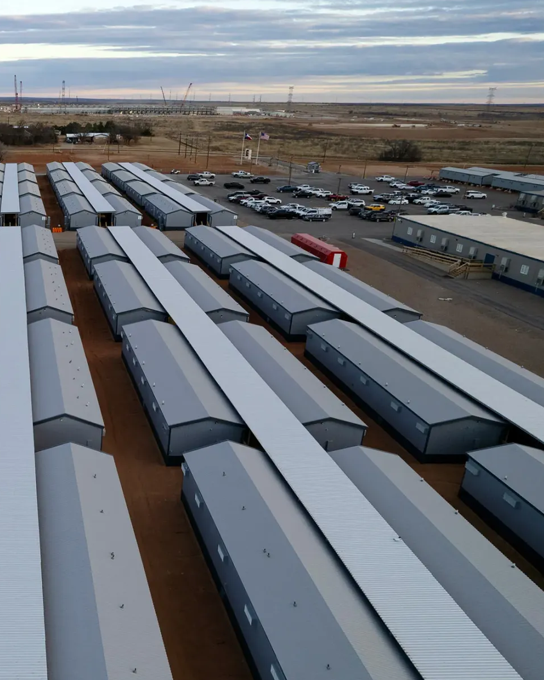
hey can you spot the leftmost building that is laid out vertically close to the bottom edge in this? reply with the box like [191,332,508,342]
[33,442,174,680]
